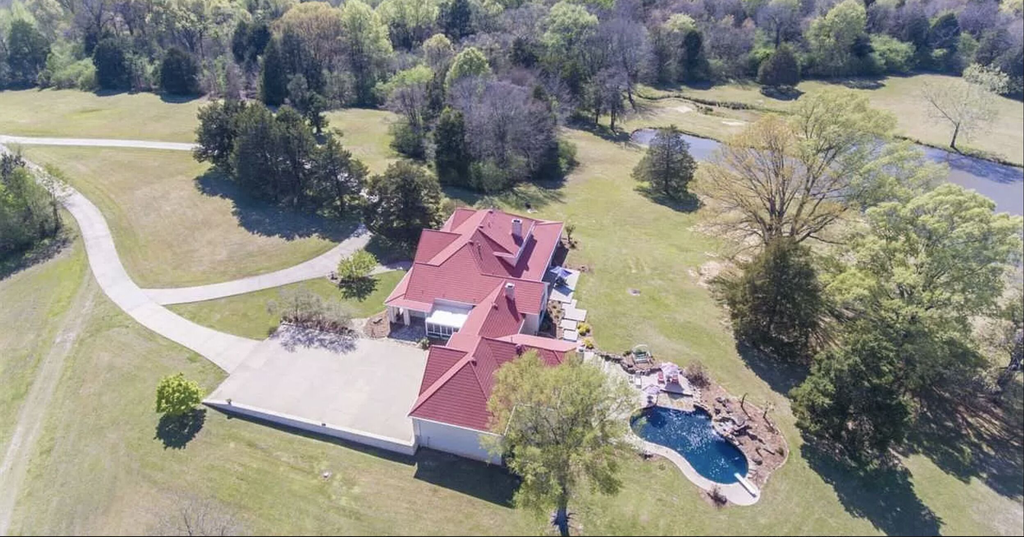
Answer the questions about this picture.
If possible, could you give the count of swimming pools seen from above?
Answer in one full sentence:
There is 1 swimming pool in the image.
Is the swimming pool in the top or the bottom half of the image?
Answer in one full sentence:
You can find the swimming pool in the bottom half.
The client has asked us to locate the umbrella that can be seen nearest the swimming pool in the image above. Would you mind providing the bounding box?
[642,382,662,402]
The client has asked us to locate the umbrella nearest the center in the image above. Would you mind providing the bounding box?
[551,268,572,287]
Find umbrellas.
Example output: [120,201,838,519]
[551,268,572,287]
[642,382,662,402]
[661,361,683,382]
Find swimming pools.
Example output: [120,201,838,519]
[628,402,750,485]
